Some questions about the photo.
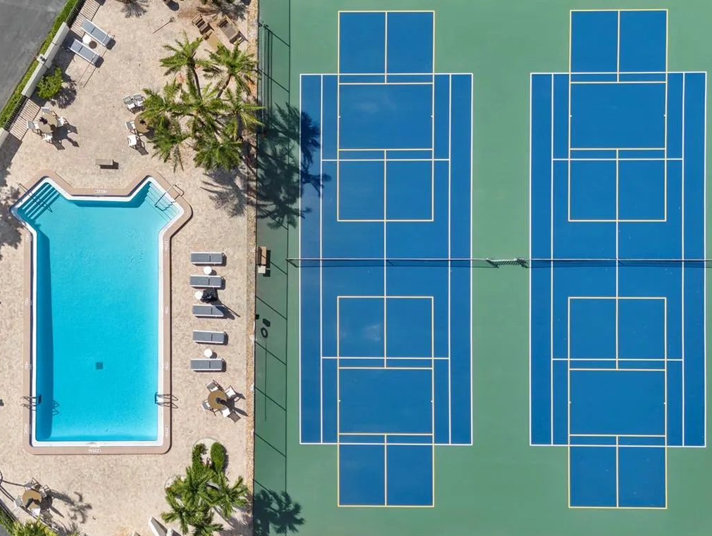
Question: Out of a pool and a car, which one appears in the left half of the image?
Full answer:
Visible in the left half of the image is a pool.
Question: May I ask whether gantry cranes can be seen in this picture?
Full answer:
No, no gantry crane is visible in the scene.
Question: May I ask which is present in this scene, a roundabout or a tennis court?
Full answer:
There is a tennis court in the scene.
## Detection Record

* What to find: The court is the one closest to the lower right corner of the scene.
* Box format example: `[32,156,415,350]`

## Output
[569,297,667,508]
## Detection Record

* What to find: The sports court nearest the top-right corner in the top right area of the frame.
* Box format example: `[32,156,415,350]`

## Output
[569,9,667,221]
